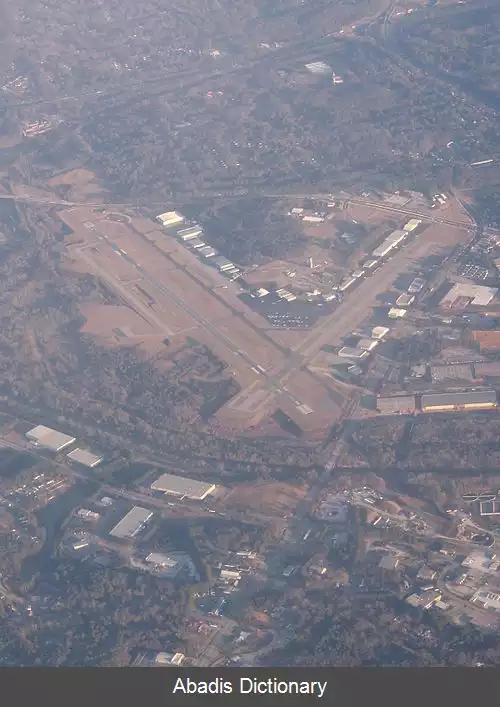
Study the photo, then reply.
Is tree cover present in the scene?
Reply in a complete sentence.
Yes, there is tree cover in the image.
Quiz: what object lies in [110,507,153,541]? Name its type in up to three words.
building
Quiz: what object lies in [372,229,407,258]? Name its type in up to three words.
hangar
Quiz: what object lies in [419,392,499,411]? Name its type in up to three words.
building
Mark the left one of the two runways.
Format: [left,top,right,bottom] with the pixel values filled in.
[95,230,309,409]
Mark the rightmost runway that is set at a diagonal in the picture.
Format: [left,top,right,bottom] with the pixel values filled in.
[244,237,441,407]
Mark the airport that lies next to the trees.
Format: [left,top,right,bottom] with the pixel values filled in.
[57,206,474,438]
